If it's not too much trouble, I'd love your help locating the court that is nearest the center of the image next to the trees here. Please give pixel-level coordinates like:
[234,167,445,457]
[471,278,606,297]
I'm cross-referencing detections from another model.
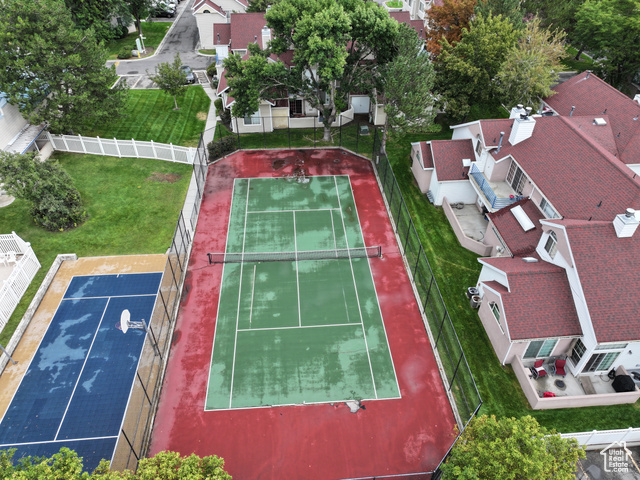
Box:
[141,145,463,480]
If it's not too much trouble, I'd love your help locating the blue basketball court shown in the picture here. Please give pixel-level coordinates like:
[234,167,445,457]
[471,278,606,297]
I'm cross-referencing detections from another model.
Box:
[0,250,186,480]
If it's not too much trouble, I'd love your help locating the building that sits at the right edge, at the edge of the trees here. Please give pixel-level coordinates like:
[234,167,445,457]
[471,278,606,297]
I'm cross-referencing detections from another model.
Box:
[411,69,640,375]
